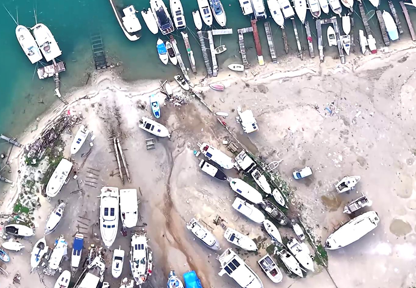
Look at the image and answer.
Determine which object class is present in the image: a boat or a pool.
boat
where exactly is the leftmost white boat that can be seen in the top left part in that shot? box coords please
[17,24,43,64]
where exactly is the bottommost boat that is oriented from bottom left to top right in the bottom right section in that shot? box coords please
[325,208,383,249]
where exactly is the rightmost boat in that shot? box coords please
[383,10,399,41]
